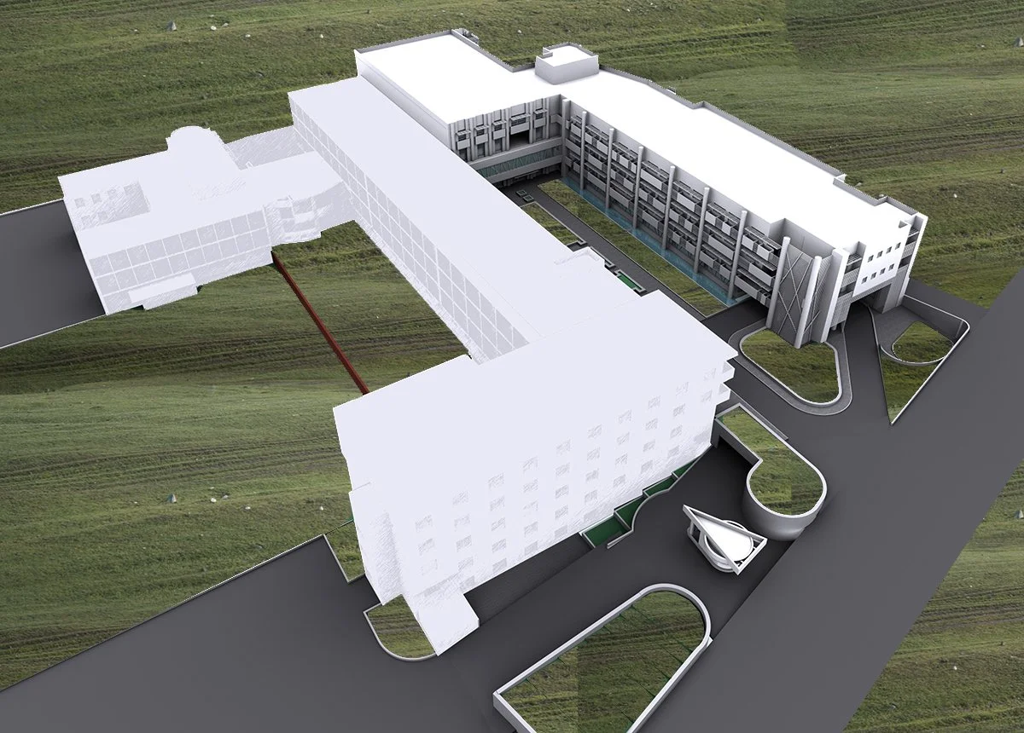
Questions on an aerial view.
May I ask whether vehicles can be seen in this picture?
No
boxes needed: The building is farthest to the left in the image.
[57,128,276,314]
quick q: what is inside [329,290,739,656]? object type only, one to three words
building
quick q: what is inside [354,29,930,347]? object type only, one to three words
building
